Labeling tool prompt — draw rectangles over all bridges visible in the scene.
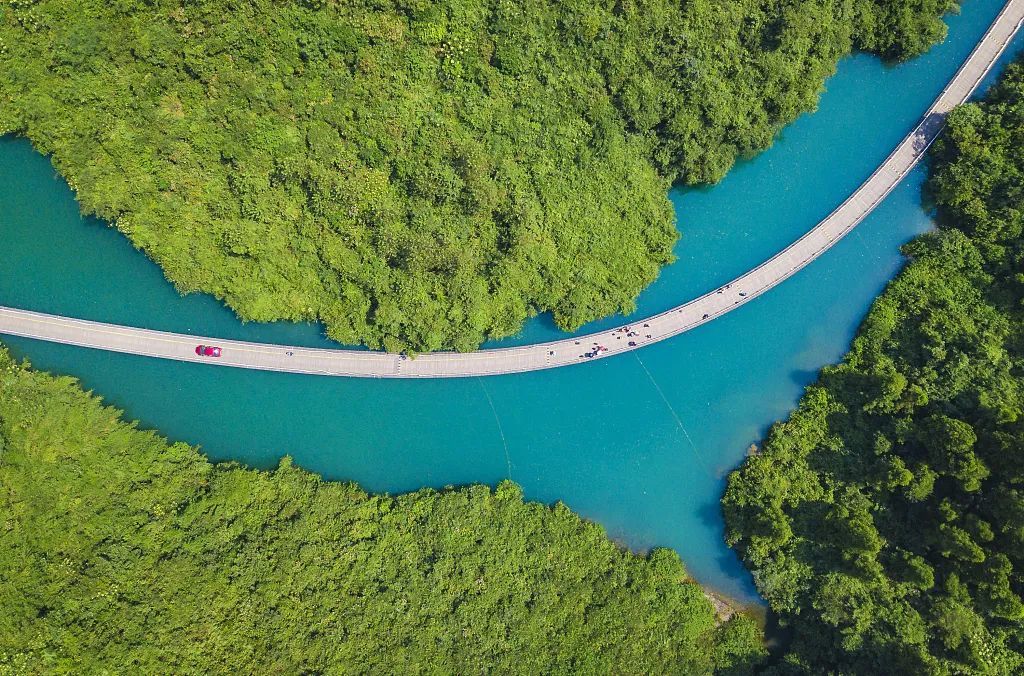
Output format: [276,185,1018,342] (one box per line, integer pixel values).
[0,0,1024,378]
